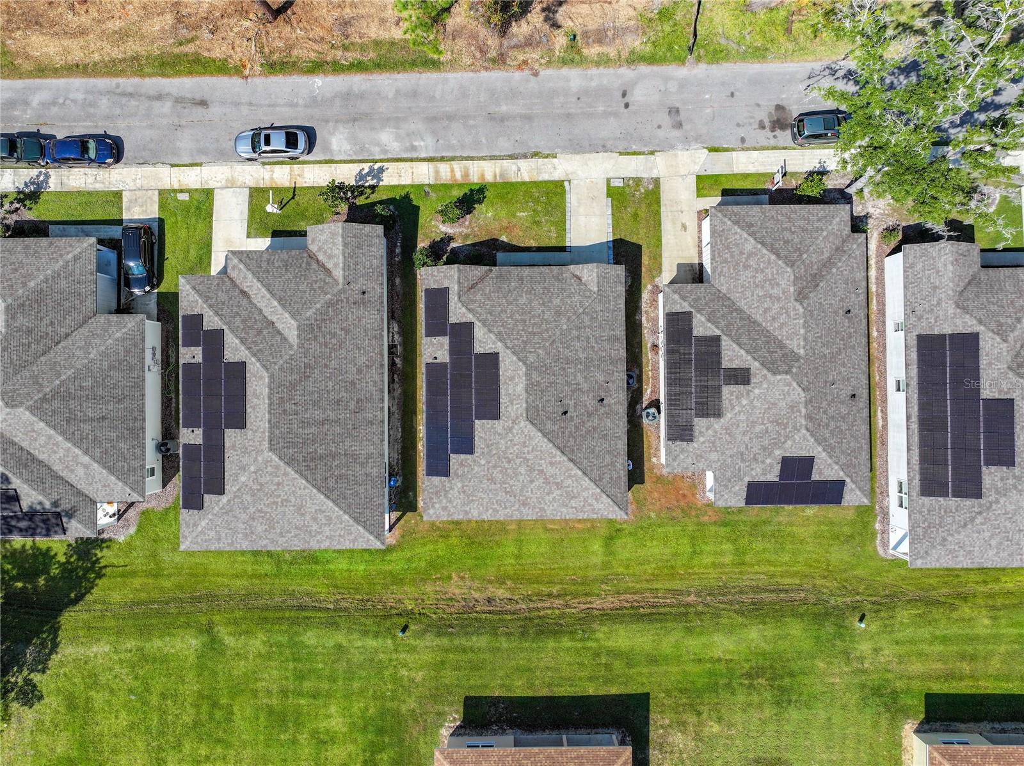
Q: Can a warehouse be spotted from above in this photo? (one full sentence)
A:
No, there is no warehouse in the image.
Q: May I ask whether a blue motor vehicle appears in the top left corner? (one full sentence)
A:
Yes, there is a blue motor vehicle in the top left corner.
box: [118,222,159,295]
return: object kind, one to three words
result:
car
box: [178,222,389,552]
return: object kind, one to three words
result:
house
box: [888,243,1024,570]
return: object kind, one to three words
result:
house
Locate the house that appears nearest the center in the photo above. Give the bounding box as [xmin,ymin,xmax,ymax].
[420,263,629,521]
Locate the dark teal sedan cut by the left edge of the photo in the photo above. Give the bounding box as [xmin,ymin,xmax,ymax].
[0,132,46,167]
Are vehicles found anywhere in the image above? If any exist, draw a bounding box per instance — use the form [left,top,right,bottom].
[787,116,854,152]
[118,222,159,295]
[43,135,120,169]
[0,132,46,167]
[235,126,311,162]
